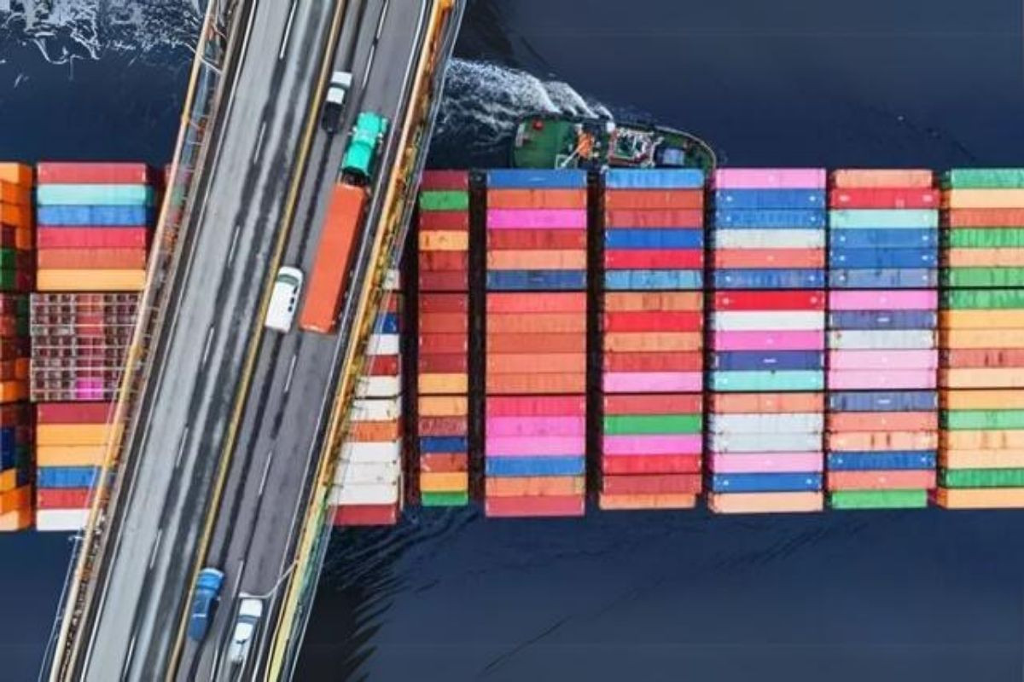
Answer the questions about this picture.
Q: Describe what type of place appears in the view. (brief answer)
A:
port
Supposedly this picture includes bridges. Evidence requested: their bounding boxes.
[31,0,469,682]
